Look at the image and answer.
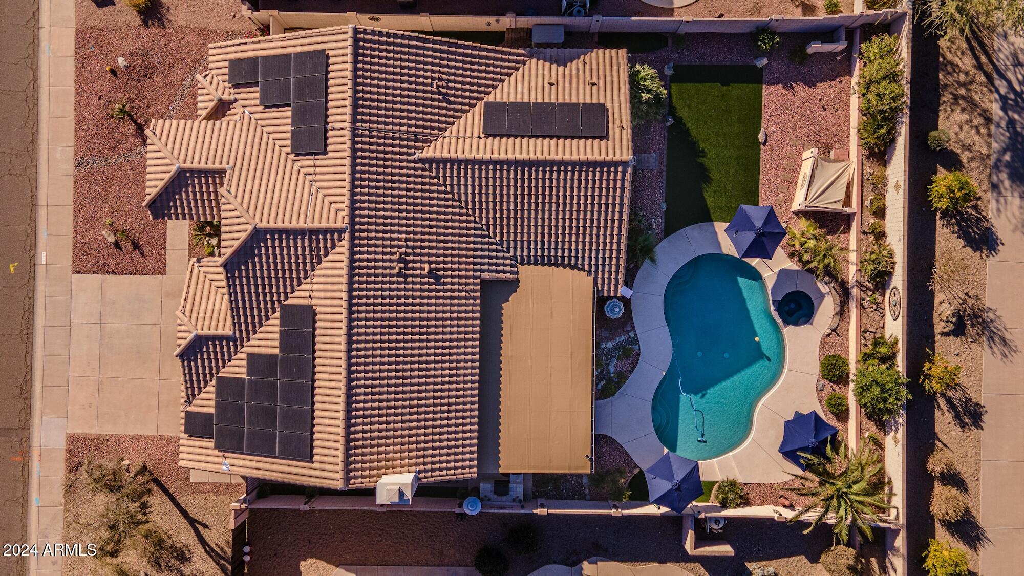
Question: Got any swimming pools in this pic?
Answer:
Yes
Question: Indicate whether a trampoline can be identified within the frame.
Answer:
No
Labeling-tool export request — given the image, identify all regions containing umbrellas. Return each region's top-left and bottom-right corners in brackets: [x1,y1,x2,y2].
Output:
[643,449,701,512]
[777,407,831,467]
[725,205,785,260]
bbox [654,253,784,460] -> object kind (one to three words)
swimming pool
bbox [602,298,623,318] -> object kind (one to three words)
fountain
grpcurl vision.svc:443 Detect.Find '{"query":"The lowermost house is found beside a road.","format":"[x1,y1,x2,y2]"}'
[141,22,636,505]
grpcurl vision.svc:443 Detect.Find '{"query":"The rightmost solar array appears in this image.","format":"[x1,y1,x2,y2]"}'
[483,101,606,136]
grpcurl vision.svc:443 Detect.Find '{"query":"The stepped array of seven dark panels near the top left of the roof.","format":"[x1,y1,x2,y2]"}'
[228,50,326,154]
